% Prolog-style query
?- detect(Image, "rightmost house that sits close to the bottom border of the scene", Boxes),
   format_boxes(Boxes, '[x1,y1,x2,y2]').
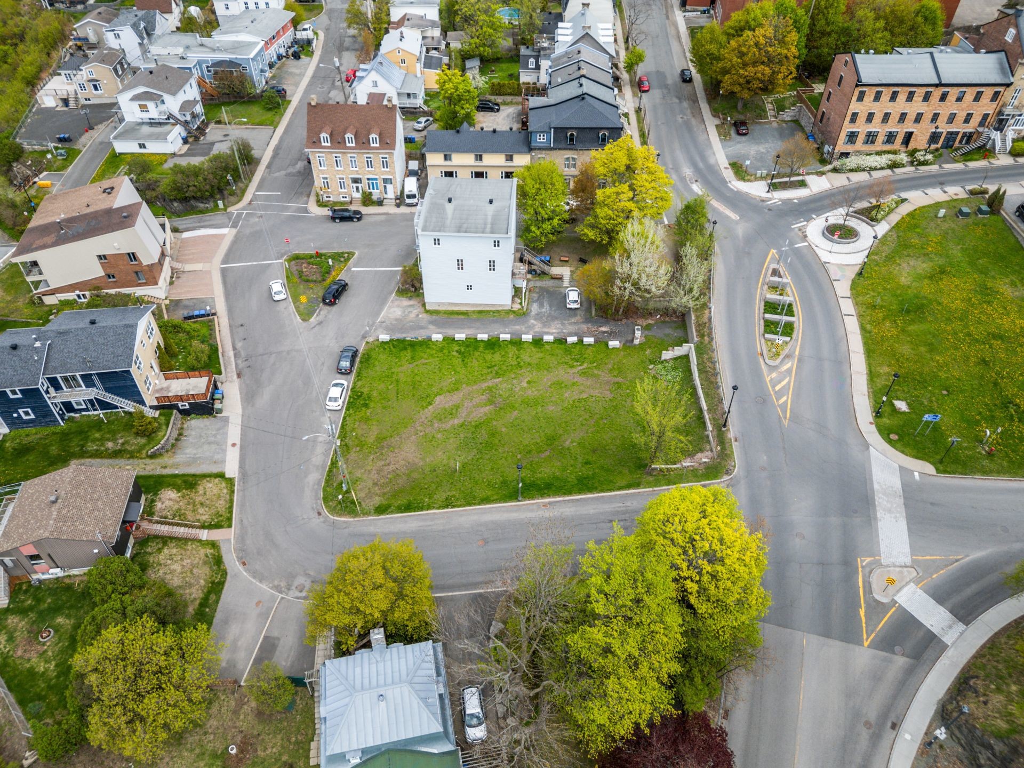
[321,627,466,768]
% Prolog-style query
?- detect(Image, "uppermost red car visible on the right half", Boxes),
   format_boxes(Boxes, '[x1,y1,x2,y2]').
[638,76,651,89]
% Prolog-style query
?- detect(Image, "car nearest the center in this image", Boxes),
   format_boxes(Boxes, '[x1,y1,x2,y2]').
[564,285,582,310]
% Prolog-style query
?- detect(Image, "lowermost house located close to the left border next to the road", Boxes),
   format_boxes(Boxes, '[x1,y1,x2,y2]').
[0,459,208,583]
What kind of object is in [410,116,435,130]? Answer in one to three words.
car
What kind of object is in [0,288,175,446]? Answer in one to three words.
house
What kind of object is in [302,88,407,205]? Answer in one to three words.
house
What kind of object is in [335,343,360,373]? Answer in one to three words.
car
